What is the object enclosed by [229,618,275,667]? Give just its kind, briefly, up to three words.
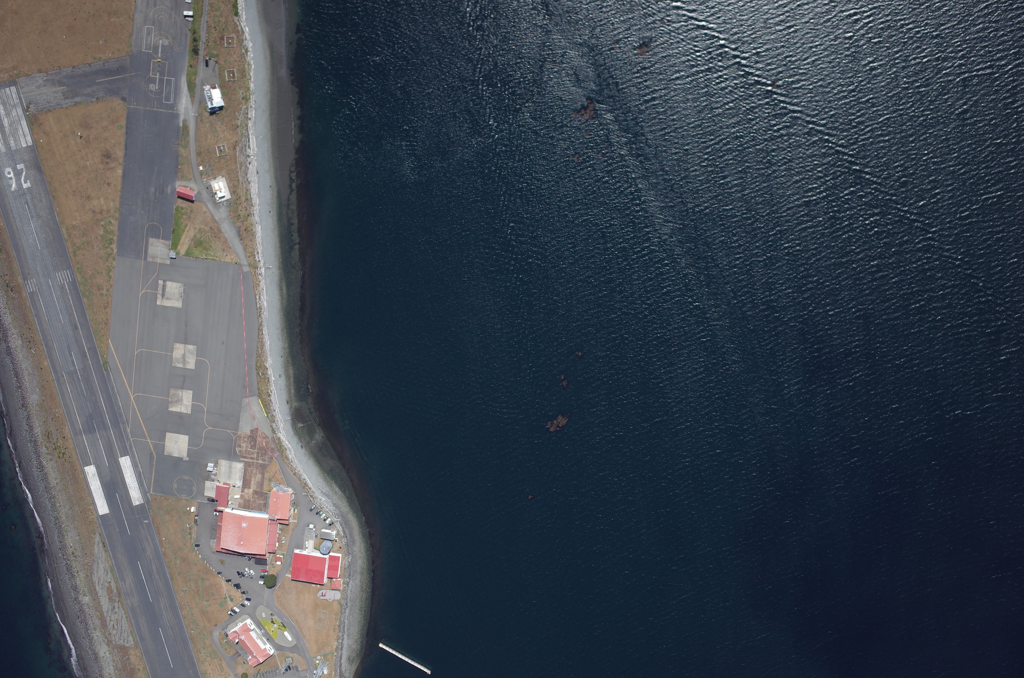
building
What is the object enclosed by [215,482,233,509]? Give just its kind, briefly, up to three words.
building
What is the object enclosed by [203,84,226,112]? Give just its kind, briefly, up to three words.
house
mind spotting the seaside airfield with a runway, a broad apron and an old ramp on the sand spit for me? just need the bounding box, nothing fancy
[0,0,278,678]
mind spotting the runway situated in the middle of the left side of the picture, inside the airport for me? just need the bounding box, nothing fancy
[0,79,201,678]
